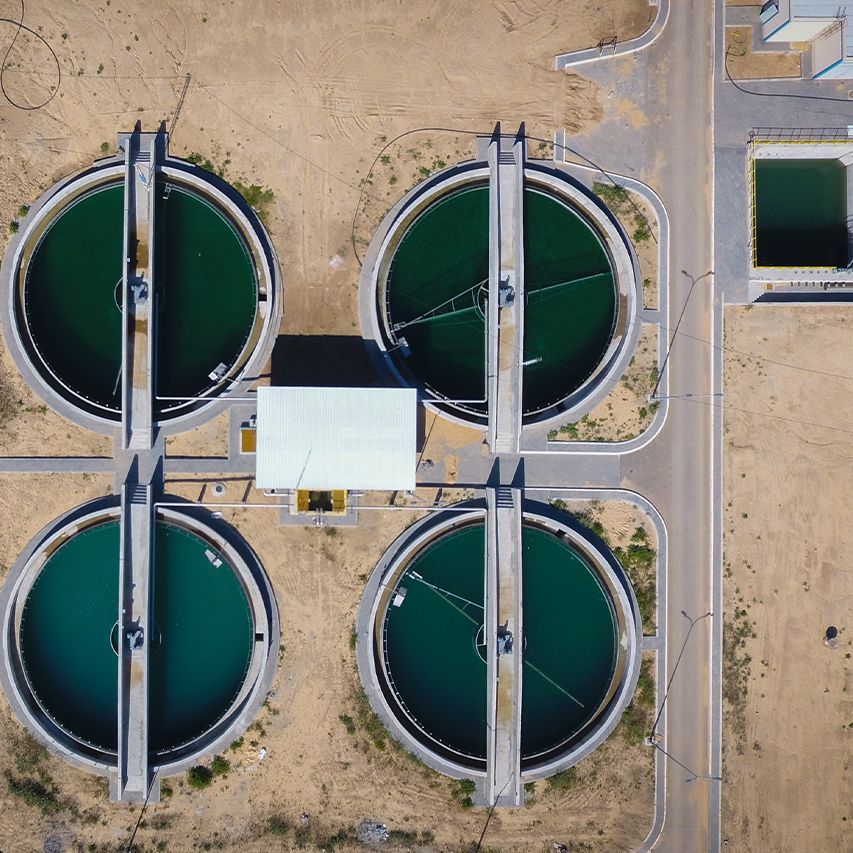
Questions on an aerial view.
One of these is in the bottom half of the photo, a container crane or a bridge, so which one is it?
bridge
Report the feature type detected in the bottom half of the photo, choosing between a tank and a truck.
tank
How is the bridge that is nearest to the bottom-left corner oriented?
vertically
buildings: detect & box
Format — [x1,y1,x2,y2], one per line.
[761,0,853,78]
[254,386,418,491]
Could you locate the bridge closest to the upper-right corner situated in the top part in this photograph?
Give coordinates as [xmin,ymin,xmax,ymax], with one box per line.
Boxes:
[485,142,522,453]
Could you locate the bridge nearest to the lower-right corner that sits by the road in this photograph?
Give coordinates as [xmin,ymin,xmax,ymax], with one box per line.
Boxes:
[483,486,521,805]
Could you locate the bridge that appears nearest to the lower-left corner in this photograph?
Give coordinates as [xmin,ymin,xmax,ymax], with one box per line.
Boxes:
[117,483,152,801]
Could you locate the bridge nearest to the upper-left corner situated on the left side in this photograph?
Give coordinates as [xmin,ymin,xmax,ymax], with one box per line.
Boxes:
[122,139,156,449]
